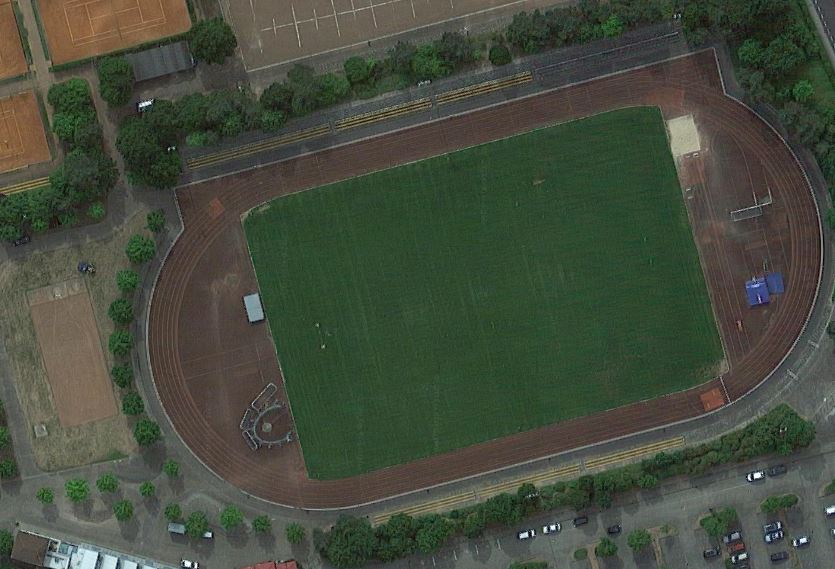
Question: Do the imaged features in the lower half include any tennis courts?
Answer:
No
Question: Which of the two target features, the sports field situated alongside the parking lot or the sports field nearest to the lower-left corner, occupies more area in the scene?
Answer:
the sports field situated alongside the parking lot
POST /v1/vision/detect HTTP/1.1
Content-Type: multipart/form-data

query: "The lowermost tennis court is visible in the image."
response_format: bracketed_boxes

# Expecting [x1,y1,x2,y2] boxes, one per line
[0,90,51,174]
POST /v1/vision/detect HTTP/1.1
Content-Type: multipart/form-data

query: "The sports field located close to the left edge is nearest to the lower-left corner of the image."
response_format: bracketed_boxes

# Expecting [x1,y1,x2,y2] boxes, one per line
[27,279,118,426]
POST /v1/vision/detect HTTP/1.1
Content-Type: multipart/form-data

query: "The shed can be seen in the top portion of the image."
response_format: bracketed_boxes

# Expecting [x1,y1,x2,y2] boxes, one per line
[130,41,194,82]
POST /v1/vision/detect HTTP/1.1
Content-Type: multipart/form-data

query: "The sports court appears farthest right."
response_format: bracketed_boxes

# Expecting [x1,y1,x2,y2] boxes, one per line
[226,0,527,73]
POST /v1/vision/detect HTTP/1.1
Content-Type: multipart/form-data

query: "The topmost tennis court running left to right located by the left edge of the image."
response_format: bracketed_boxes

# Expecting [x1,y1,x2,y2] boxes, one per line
[38,0,191,66]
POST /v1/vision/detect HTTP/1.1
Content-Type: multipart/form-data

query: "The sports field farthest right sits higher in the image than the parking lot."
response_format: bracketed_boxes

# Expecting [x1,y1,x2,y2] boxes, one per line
[240,105,728,481]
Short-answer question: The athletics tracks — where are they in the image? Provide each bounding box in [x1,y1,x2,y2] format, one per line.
[148,48,822,509]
